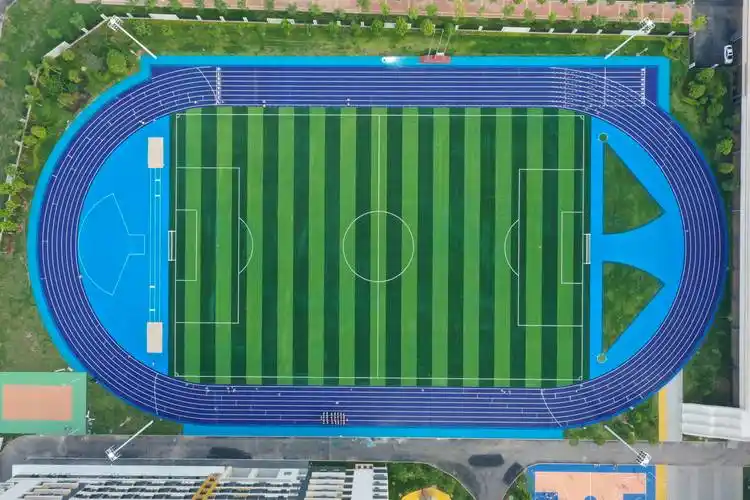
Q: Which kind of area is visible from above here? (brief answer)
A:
sports ground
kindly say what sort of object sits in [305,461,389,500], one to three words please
building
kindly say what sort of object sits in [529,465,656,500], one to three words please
basketball court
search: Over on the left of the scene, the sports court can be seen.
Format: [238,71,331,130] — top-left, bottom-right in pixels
[0,372,89,435]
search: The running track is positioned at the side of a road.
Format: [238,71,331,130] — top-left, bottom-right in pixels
[27,56,729,436]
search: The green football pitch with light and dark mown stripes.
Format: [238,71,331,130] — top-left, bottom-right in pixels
[168,105,591,387]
